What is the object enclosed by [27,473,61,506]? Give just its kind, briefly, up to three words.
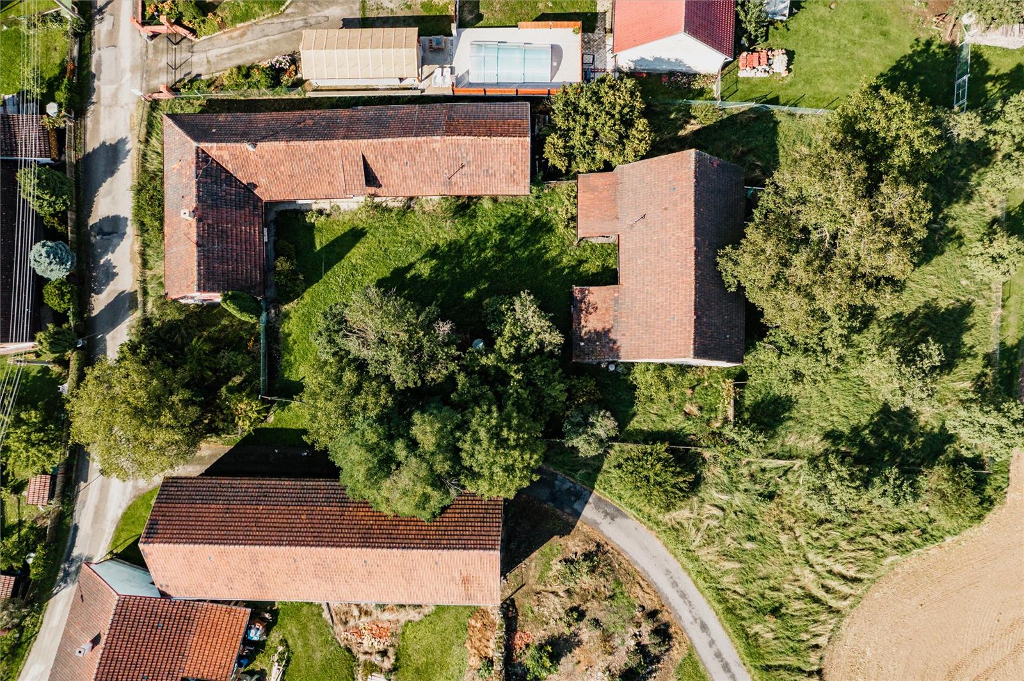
shed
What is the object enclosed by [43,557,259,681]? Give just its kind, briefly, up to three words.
house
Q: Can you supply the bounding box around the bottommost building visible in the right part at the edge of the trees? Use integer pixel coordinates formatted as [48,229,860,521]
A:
[571,149,745,368]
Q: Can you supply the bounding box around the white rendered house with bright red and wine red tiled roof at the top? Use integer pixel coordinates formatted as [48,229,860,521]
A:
[611,0,735,75]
